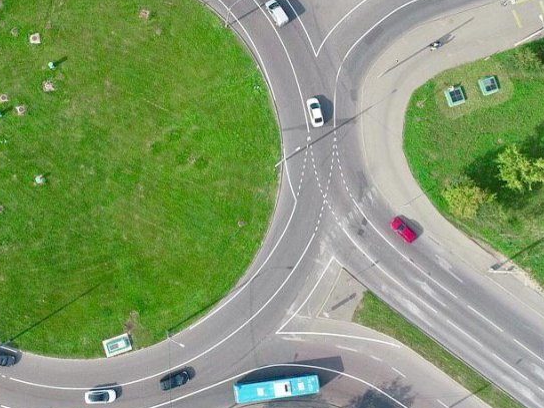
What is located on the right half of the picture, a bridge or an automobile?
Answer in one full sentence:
The feature located on the right half of the picture is an automobile.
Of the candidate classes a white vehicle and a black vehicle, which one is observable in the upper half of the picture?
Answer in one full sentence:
Looking in the upper half of the picture, you will find a white vehicle.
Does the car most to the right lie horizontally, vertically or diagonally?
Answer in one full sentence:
From this overhead view, the car most to the right appears to run diagonally.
